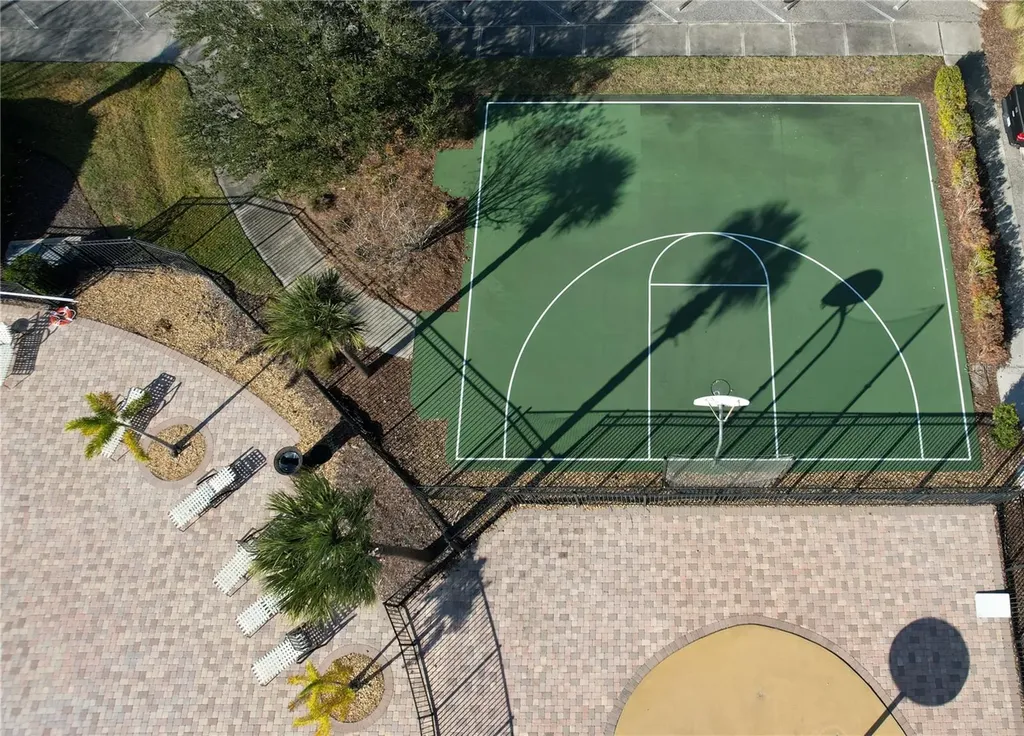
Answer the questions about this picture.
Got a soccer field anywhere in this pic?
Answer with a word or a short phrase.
No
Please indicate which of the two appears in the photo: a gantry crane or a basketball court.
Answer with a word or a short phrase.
basketball court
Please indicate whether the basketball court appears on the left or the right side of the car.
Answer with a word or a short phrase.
to its left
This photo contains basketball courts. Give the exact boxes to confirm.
[411,95,981,471]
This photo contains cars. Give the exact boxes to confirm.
[998,88,1024,152]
